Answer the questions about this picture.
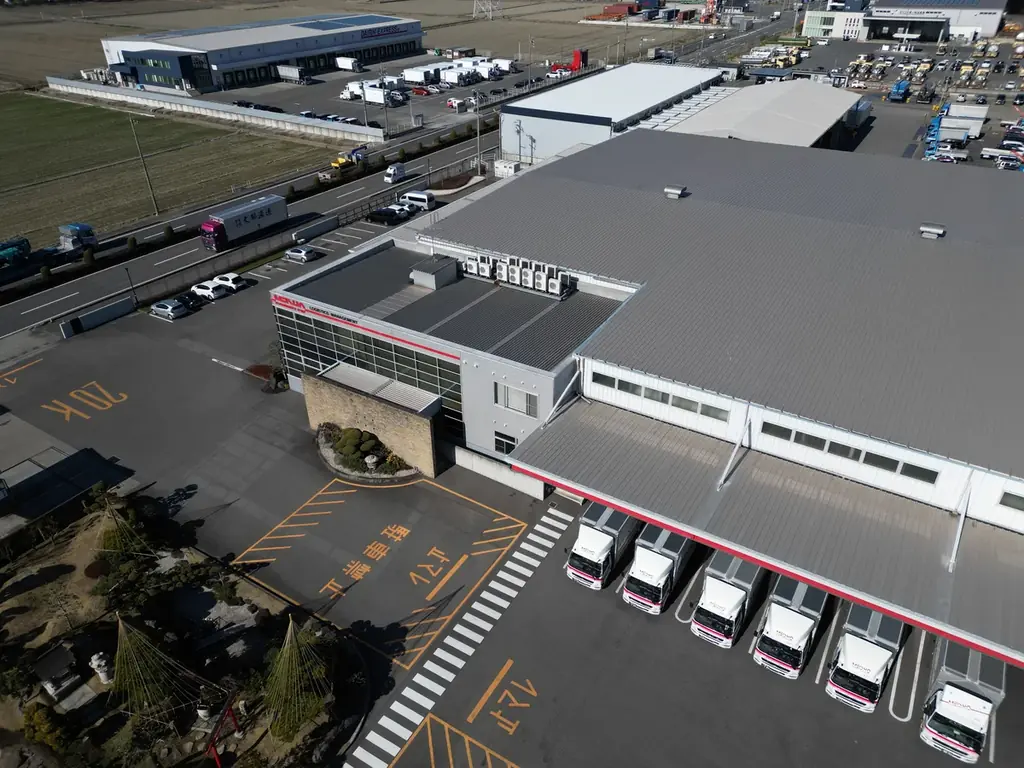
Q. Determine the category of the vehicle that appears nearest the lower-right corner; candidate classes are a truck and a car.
truck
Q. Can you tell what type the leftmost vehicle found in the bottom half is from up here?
truck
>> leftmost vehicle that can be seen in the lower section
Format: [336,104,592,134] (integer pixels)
[563,503,642,590]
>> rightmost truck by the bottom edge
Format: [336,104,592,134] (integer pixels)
[922,633,1004,764]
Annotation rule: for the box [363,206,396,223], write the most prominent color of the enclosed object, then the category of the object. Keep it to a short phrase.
black car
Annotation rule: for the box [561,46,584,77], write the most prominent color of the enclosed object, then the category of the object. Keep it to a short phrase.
red work vehicle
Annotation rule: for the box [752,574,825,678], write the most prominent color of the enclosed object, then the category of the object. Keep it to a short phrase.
white truck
